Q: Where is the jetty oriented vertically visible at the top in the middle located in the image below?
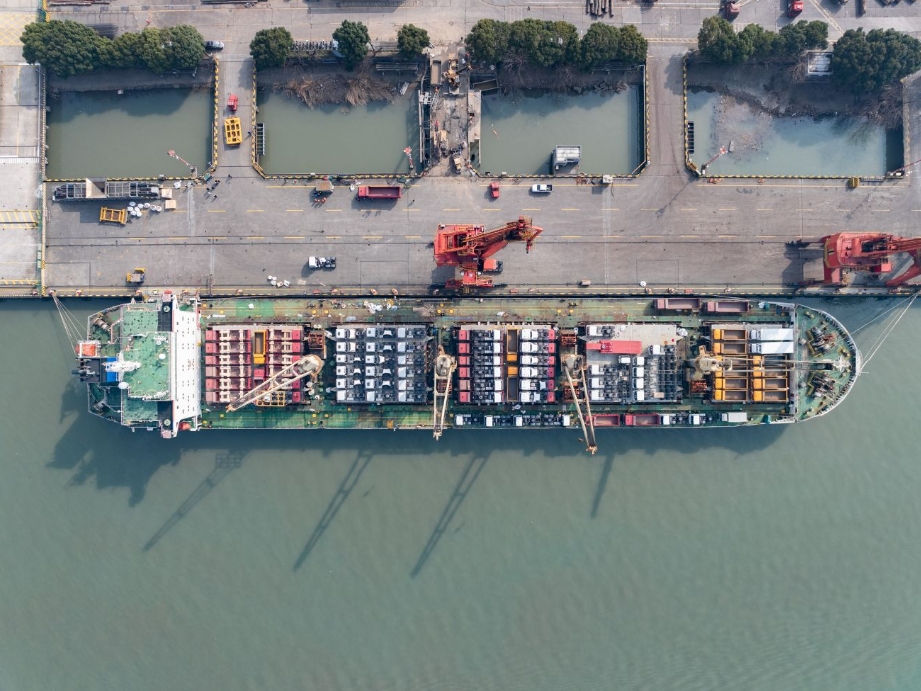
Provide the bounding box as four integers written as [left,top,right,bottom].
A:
[468,91,480,166]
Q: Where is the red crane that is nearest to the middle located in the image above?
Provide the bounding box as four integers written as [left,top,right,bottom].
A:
[434,218,543,287]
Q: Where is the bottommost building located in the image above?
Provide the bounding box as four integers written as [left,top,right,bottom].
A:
[548,144,582,176]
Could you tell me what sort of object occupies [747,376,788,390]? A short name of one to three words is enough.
vehicle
